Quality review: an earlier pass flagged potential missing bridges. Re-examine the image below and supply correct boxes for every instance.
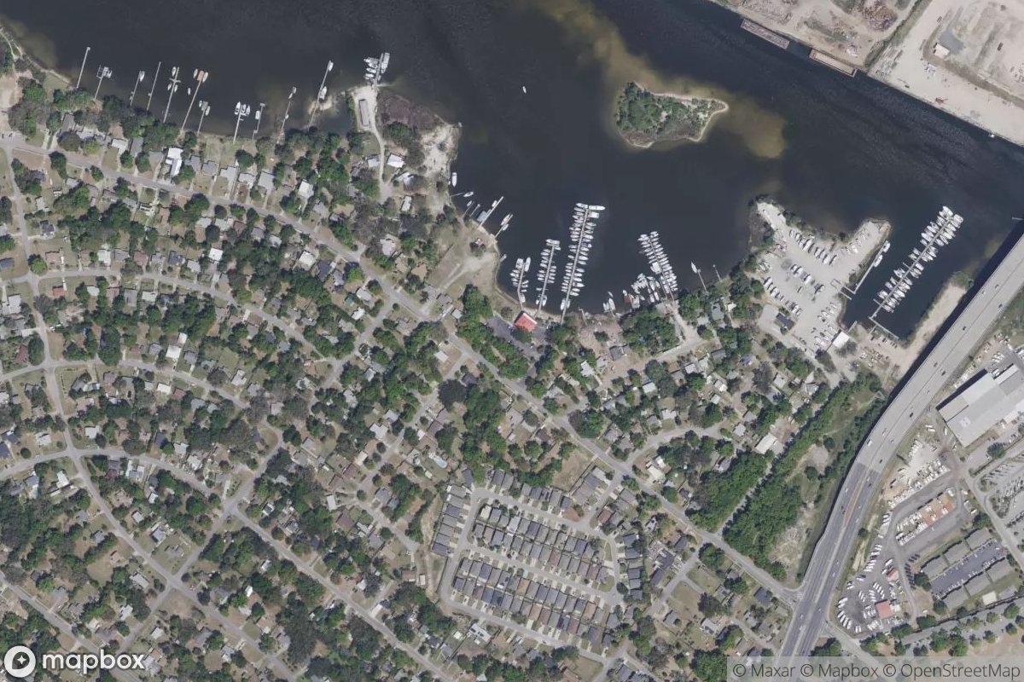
[853,236,1024,480]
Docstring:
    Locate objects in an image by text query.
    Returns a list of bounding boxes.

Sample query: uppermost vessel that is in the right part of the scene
[741,19,790,49]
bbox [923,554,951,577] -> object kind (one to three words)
building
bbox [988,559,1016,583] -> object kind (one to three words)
building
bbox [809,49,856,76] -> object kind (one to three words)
ship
